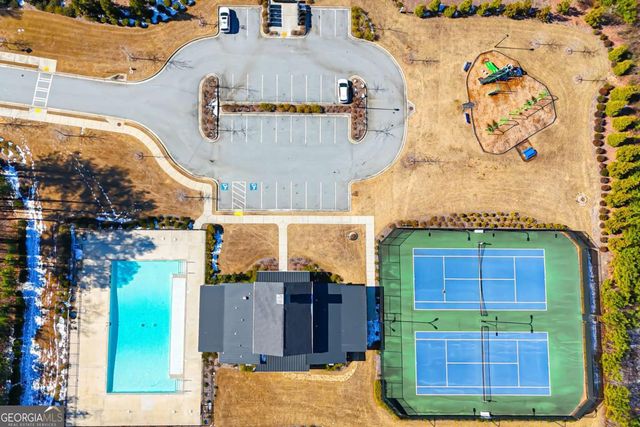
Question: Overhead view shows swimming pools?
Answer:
Yes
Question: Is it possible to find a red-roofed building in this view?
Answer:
No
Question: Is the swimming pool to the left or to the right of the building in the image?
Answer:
on the left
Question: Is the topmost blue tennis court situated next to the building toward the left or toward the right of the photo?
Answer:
right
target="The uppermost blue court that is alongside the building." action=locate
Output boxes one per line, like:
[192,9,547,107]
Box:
[413,248,547,311]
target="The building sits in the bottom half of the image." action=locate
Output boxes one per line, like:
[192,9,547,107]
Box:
[198,271,368,372]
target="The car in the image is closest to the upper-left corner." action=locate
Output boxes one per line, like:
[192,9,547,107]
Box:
[218,6,231,32]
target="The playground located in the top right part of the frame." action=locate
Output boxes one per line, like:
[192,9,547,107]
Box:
[468,49,557,162]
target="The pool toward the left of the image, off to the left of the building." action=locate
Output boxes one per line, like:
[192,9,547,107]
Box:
[69,230,208,424]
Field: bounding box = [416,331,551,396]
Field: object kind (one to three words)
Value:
tennis court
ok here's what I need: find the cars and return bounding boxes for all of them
[218,6,231,32]
[338,79,349,103]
